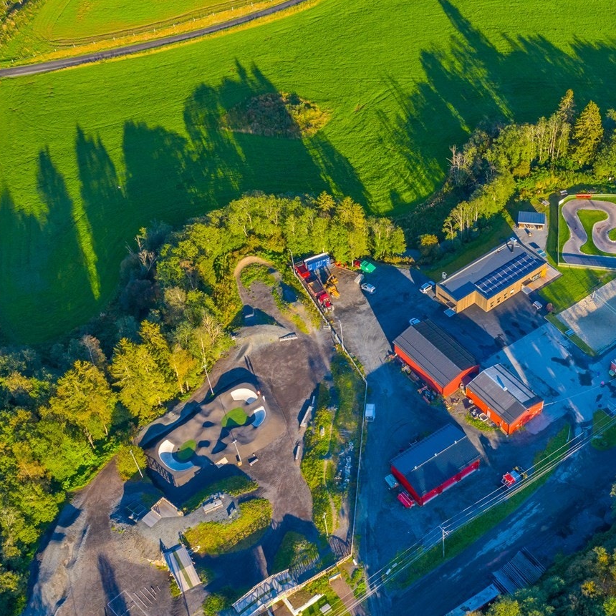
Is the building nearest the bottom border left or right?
right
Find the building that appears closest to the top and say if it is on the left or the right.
right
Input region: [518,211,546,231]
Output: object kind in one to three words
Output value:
building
